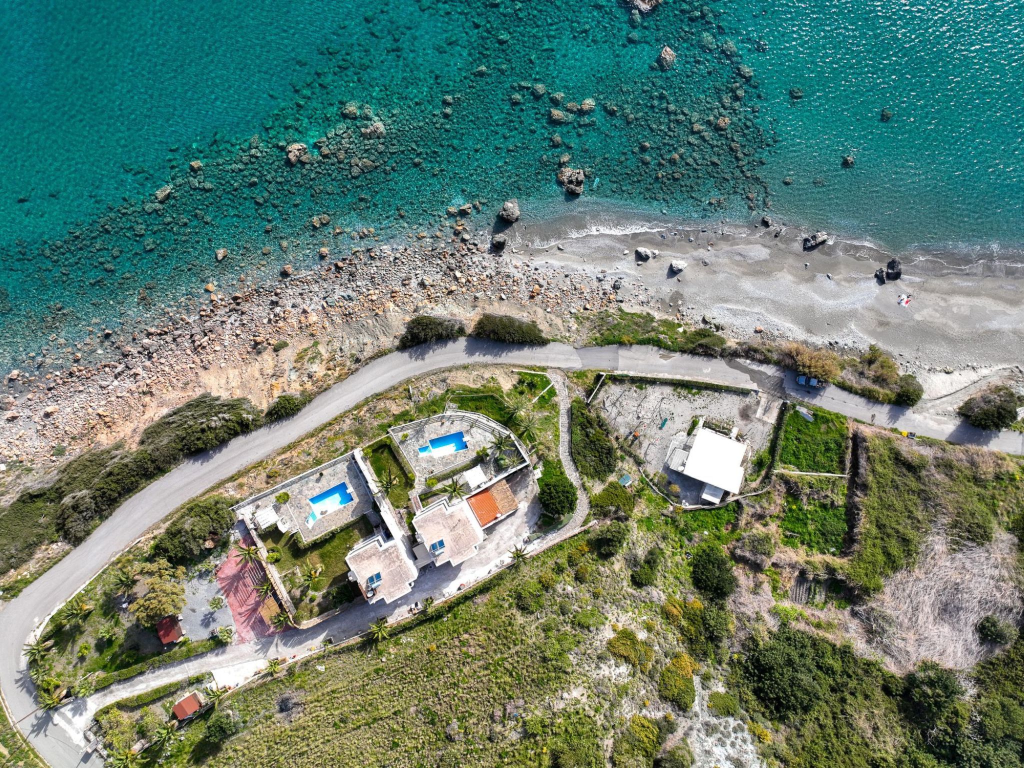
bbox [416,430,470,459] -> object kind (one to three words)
swimming pool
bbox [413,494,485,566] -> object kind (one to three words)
house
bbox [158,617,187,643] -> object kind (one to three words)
shed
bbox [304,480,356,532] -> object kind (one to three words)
swimming pool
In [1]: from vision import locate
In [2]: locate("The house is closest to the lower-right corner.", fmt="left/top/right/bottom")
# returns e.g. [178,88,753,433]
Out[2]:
[679,426,748,504]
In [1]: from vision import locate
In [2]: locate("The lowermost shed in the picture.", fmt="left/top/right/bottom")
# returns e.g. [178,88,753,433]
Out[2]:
[173,691,201,720]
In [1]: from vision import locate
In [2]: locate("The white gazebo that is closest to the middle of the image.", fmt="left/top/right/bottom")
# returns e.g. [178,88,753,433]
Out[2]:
[463,464,488,490]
